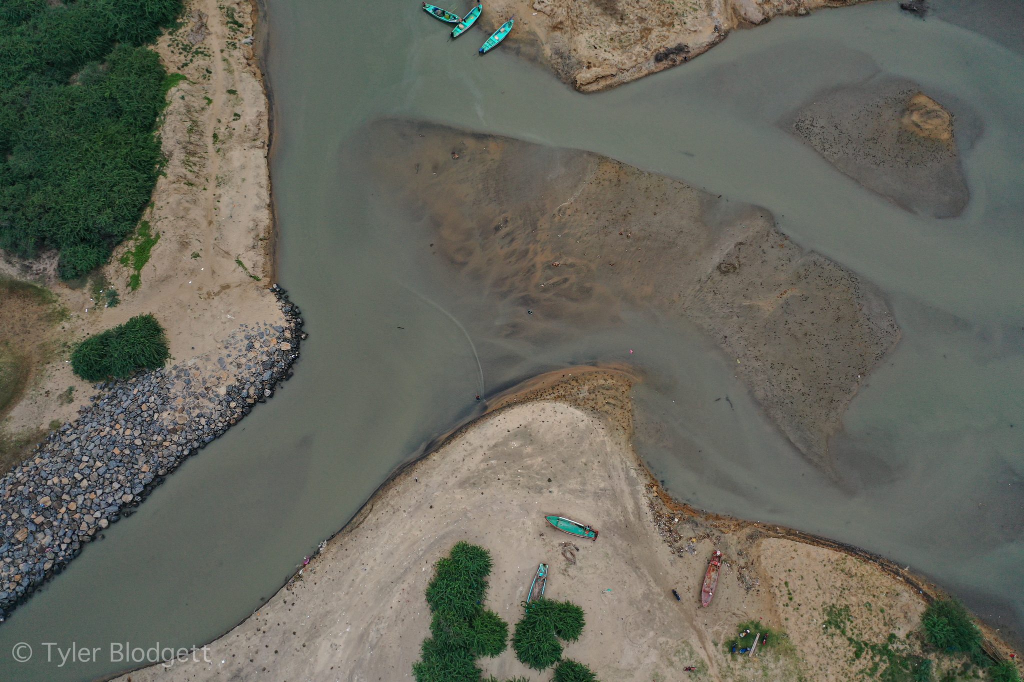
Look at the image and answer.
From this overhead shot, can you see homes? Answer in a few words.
No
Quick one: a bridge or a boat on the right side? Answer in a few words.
boat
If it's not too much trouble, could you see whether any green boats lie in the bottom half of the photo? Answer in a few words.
Yes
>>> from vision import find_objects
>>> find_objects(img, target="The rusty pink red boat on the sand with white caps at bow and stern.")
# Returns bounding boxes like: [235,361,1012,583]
[703,552,723,608]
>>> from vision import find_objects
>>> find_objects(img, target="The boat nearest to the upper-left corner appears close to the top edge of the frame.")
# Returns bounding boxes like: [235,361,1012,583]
[416,1,461,22]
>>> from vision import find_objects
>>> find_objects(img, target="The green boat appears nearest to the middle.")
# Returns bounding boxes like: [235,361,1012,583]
[545,516,599,540]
